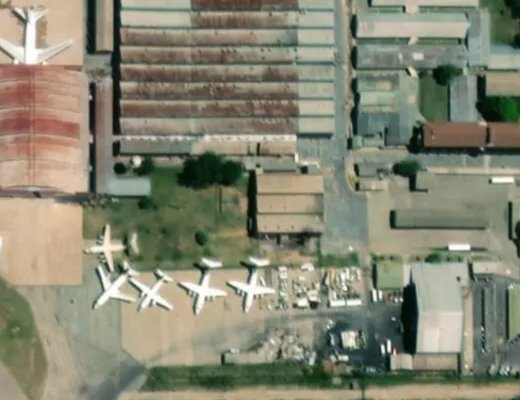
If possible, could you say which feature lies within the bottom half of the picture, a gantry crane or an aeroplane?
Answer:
aeroplane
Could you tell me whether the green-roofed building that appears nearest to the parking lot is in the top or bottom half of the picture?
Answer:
bottom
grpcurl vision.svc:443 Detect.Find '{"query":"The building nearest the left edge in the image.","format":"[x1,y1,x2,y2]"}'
[0,65,92,197]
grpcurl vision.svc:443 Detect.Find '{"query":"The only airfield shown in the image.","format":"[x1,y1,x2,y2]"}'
[0,196,368,400]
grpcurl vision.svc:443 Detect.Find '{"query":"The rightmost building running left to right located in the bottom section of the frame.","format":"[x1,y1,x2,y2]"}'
[473,261,506,275]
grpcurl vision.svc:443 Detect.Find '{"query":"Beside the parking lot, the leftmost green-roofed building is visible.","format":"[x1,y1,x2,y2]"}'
[375,262,403,289]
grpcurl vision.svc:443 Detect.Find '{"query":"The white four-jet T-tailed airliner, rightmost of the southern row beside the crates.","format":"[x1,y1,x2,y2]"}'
[228,255,276,311]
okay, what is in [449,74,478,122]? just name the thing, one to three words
building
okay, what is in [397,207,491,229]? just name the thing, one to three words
shed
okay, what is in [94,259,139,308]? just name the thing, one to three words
airplane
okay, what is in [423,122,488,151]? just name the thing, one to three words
house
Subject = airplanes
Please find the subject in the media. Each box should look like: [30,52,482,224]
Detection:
[0,0,72,65]
[83,224,138,271]
[129,261,176,310]
[180,258,228,314]
[228,255,276,311]
[94,259,139,308]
